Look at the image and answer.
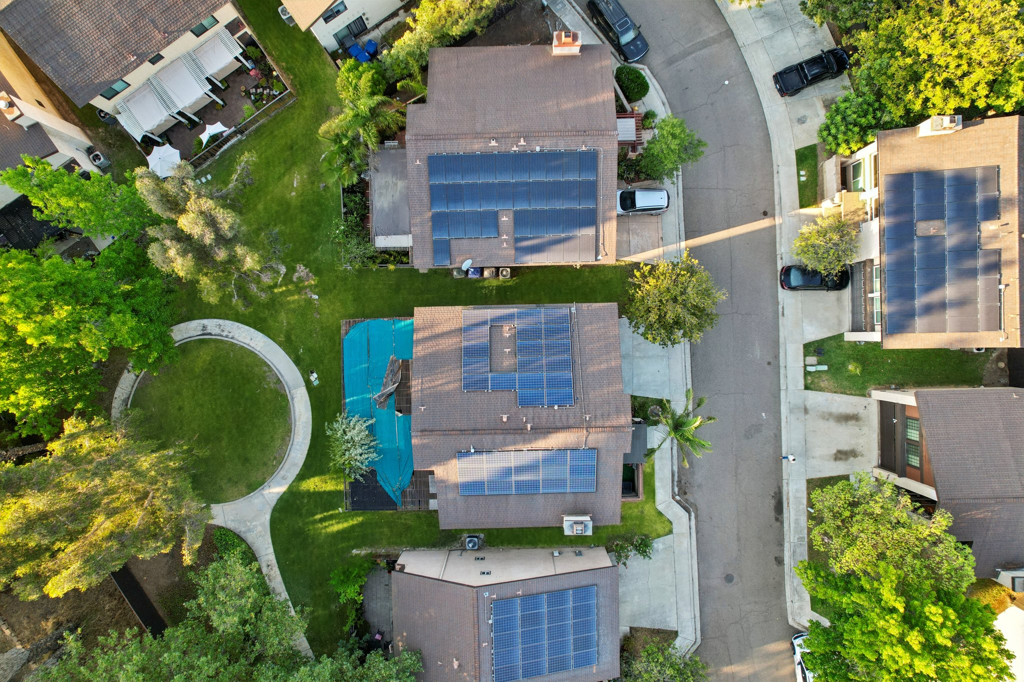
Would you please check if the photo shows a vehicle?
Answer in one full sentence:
Yes, I can see a vehicle in this picture.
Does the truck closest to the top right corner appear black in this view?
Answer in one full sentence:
Yes, the truck closest to the top right corner is black.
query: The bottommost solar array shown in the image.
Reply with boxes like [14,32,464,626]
[484,586,597,682]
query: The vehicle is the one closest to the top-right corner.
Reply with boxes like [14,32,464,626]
[770,45,855,99]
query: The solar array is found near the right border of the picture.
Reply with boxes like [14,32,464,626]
[884,165,1005,341]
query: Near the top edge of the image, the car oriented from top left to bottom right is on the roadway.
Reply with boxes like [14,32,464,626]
[591,0,646,62]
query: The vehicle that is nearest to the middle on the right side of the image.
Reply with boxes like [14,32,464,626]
[617,184,670,218]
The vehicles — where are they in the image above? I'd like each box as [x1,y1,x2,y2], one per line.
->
[781,260,851,294]
[789,631,820,682]
[591,0,646,62]
[617,184,670,218]
[770,45,855,99]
